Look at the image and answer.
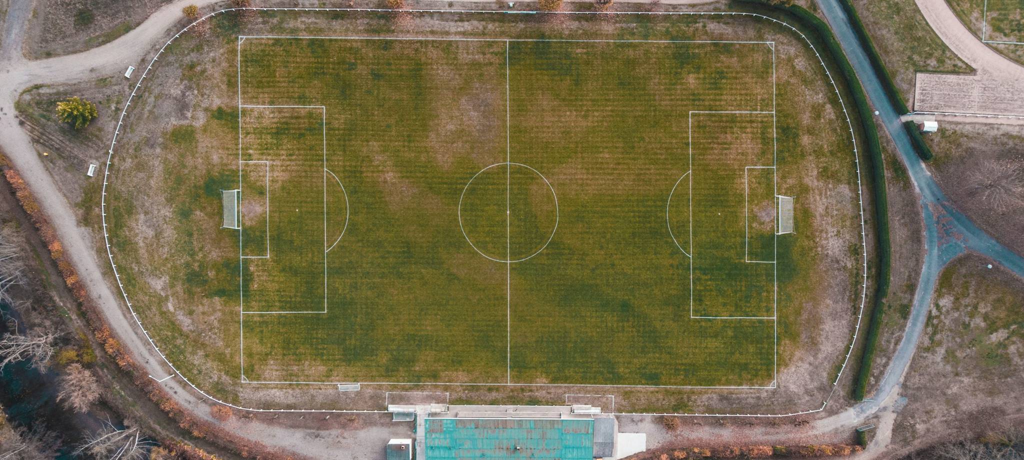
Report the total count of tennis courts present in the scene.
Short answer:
zero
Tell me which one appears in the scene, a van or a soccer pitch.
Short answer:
soccer pitch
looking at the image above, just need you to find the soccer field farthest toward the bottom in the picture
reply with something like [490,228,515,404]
[235,31,780,406]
